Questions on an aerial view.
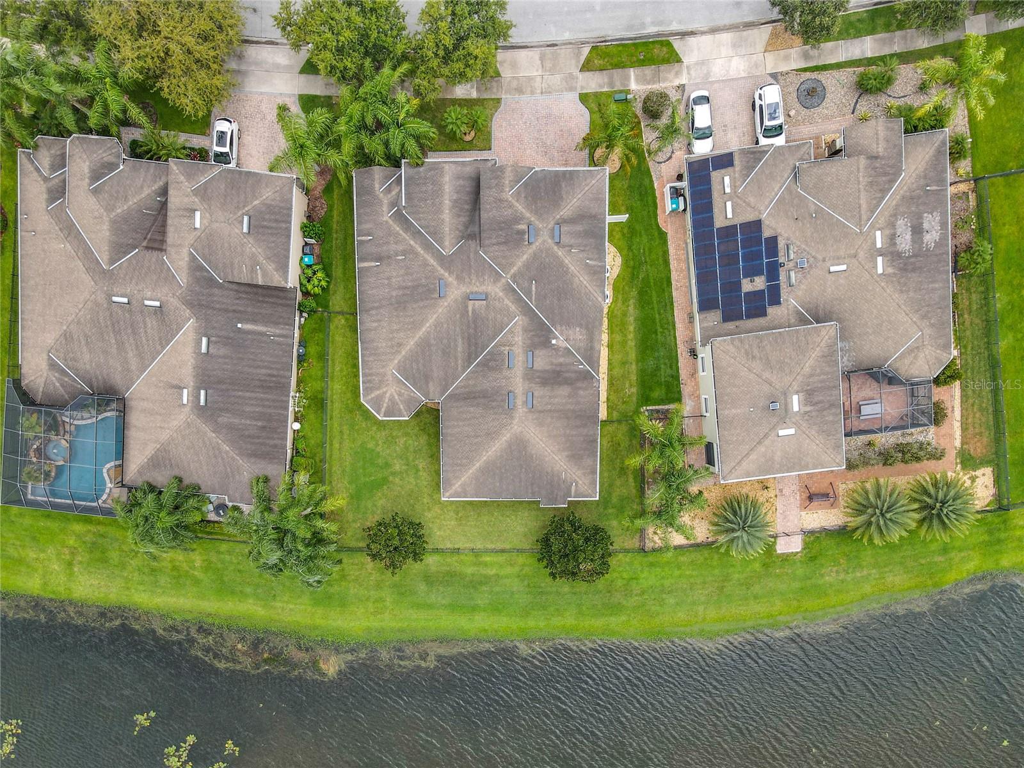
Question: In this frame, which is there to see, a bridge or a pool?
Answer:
pool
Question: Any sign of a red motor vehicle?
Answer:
No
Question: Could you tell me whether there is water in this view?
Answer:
Yes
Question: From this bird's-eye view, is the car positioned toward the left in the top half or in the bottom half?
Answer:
top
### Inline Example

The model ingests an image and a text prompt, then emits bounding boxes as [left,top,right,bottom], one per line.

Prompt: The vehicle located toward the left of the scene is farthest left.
[206,113,243,169]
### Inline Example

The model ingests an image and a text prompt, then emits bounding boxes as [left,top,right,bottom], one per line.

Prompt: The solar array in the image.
[688,152,781,322]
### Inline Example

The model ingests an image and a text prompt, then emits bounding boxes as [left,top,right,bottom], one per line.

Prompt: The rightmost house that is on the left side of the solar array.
[352,157,608,507]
